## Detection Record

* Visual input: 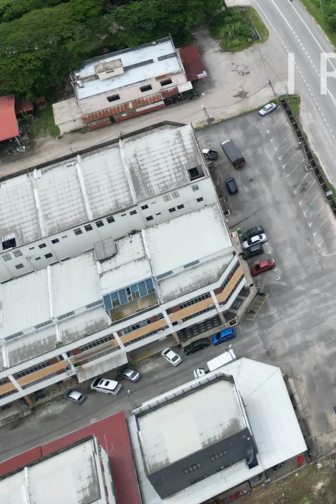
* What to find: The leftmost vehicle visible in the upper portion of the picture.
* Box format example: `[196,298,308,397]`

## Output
[200,147,222,163]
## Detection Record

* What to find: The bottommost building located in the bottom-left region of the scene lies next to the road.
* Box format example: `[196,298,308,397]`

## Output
[0,411,140,504]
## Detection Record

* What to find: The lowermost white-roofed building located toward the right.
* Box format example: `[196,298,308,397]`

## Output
[124,359,307,504]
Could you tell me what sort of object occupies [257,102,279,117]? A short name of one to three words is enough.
car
